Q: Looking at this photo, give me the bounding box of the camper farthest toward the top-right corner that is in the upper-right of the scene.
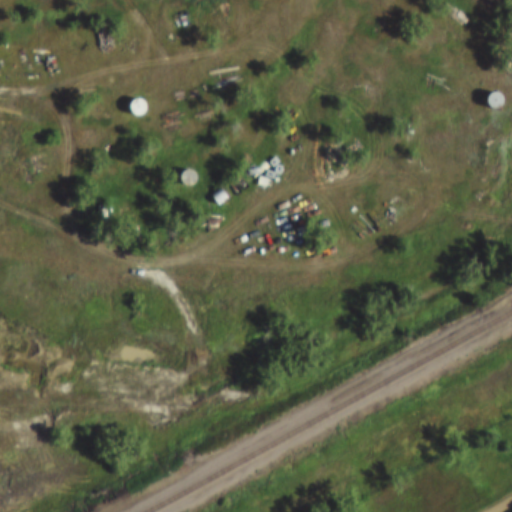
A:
[452,8,468,24]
